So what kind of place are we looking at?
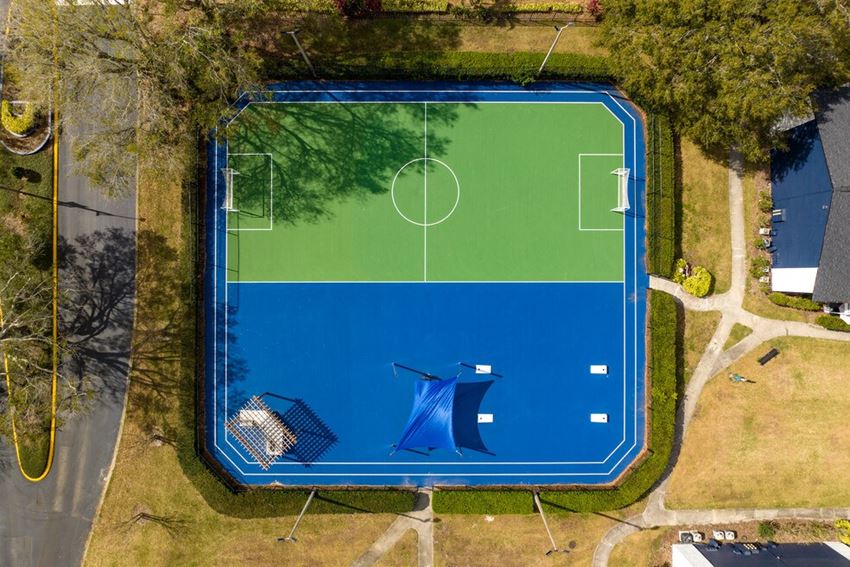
sports ground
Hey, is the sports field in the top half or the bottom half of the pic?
top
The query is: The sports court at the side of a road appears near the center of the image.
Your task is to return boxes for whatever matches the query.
[206,81,646,486]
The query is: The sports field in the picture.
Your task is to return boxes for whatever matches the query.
[227,104,623,282]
